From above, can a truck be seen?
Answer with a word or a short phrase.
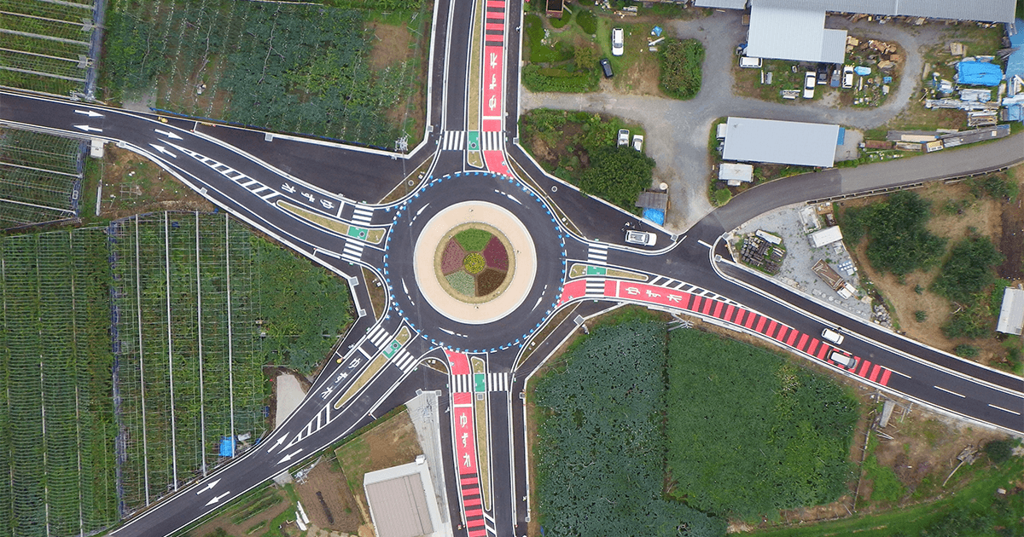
Yes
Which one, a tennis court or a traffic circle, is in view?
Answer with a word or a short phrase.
traffic circle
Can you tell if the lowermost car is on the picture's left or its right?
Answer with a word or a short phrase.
right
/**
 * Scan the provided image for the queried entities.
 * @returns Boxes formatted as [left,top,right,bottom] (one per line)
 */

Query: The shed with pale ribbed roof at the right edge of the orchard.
[995,286,1024,336]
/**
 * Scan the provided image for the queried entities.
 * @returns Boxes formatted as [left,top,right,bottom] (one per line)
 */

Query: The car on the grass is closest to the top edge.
[611,27,625,58]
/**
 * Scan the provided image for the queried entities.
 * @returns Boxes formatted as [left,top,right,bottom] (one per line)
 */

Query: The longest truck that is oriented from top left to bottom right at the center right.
[811,258,853,297]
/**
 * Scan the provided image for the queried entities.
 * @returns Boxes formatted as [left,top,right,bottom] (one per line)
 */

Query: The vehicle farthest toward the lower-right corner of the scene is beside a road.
[822,347,856,369]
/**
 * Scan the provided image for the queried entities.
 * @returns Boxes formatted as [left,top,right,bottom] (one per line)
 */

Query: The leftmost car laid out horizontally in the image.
[623,231,658,247]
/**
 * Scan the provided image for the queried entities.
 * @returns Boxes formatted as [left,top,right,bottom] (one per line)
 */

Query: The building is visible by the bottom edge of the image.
[365,454,446,537]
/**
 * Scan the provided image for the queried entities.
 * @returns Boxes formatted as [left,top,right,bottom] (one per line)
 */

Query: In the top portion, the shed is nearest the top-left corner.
[90,138,108,158]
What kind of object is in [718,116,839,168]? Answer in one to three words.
building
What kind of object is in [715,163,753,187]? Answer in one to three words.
building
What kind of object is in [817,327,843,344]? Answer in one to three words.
car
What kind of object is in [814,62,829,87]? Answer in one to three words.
vehicle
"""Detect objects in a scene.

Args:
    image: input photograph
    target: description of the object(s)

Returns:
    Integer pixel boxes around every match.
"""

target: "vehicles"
[598,57,613,82]
[736,58,761,71]
[800,69,815,100]
[617,127,630,151]
[826,64,841,91]
[811,258,853,297]
[623,231,658,247]
[814,62,829,87]
[611,27,625,58]
[822,347,856,369]
[838,65,854,91]
[817,327,843,344]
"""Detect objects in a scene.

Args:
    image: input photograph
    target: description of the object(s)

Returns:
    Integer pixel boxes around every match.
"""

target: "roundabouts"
[385,174,564,352]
